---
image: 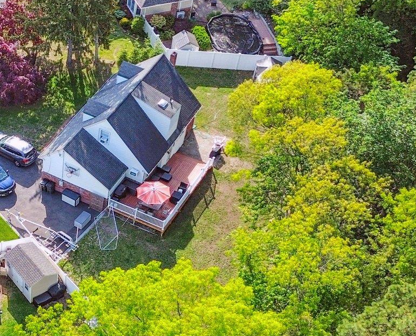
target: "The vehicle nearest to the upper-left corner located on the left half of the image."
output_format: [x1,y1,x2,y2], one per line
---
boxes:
[0,136,38,167]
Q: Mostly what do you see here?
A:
trees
